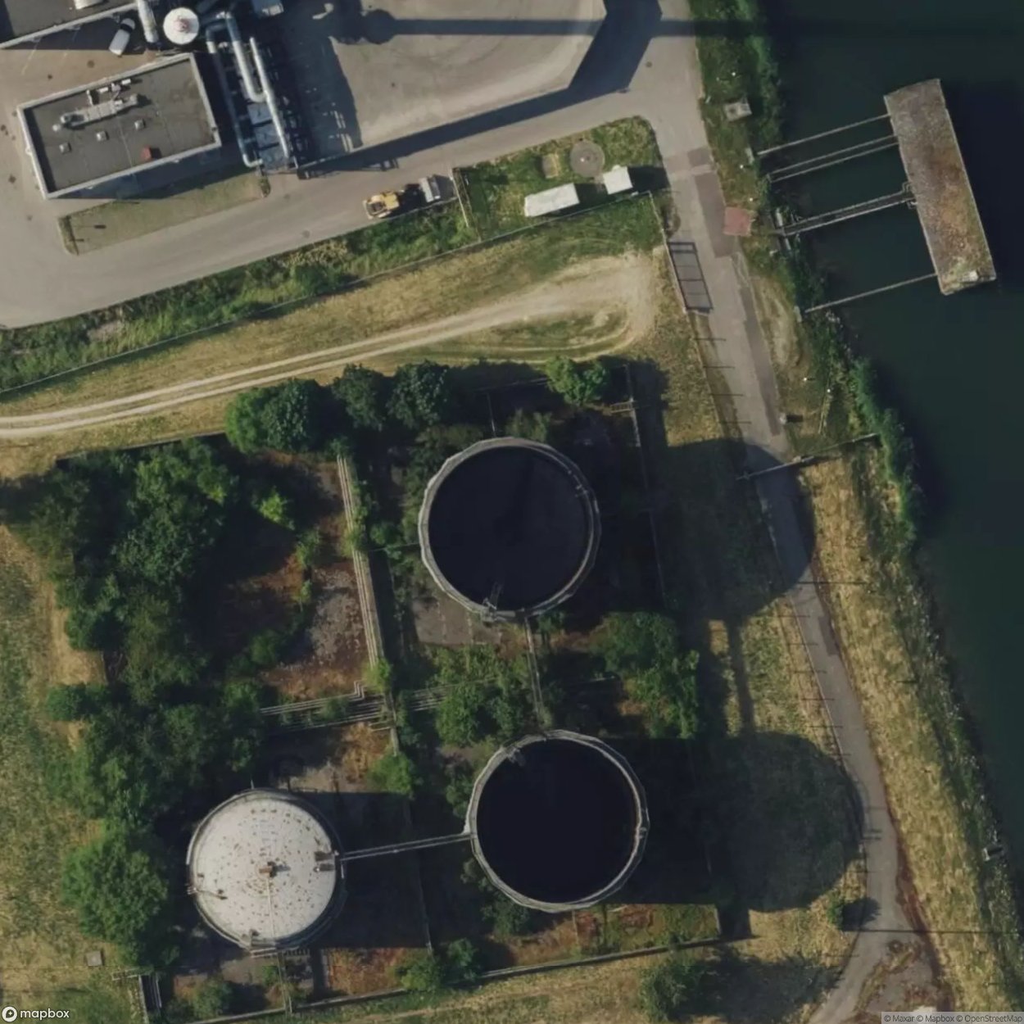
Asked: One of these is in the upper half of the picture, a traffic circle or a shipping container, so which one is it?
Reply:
shipping container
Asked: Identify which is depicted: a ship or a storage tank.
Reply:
storage tank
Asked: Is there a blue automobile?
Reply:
No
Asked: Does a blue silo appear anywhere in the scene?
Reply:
No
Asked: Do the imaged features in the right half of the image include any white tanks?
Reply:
No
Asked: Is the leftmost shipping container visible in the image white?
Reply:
Yes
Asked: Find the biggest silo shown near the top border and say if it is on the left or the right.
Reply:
left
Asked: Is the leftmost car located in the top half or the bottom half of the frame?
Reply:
top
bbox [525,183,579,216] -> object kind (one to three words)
shipping container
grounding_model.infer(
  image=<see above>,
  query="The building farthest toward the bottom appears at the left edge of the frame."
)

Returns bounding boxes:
[17,53,221,198]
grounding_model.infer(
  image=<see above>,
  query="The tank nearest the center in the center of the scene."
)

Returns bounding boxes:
[420,439,599,623]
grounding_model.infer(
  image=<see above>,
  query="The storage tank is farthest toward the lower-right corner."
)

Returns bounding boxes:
[464,731,648,911]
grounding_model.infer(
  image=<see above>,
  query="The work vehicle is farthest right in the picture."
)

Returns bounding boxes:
[364,174,443,217]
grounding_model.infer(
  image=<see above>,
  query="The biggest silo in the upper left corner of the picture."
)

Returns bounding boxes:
[163,8,199,44]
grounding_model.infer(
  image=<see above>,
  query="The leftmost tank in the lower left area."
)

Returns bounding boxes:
[186,790,346,959]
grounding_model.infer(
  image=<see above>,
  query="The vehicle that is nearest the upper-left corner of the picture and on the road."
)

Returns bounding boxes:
[107,17,135,53]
